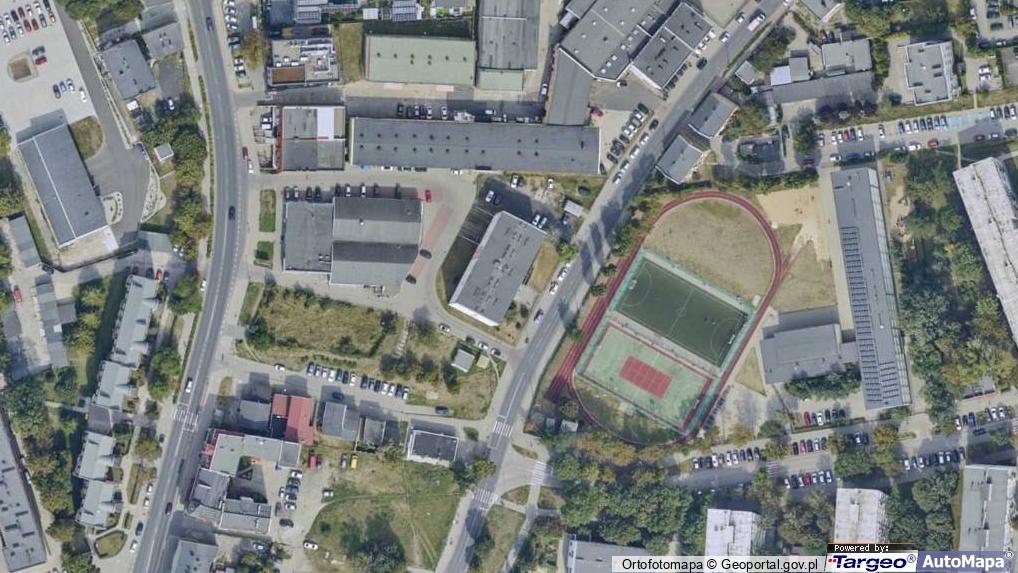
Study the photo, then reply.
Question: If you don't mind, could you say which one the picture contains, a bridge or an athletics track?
athletics track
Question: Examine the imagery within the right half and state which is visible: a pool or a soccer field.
soccer field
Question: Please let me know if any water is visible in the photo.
No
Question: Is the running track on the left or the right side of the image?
right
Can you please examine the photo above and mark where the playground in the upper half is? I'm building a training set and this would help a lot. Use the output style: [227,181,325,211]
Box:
[888,175,911,236]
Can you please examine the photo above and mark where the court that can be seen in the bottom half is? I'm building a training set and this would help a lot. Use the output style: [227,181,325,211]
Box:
[584,321,713,430]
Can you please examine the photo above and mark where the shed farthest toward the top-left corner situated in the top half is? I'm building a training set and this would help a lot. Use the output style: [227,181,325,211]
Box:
[99,22,138,48]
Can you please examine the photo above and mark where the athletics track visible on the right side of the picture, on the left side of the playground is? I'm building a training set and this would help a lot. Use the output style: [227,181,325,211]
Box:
[546,190,804,446]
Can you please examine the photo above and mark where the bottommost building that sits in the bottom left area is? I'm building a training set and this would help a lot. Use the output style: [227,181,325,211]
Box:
[172,540,219,573]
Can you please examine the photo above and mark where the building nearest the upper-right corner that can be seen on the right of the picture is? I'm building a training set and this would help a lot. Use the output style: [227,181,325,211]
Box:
[904,42,958,105]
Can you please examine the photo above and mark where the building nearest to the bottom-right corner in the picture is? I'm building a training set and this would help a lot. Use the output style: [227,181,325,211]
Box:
[956,465,1017,573]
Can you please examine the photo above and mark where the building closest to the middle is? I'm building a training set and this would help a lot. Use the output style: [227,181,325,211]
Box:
[447,211,545,329]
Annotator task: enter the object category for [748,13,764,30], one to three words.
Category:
vehicle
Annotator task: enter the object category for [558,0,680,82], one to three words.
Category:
building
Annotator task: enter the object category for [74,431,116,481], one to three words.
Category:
house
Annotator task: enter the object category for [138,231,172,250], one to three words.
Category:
shed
